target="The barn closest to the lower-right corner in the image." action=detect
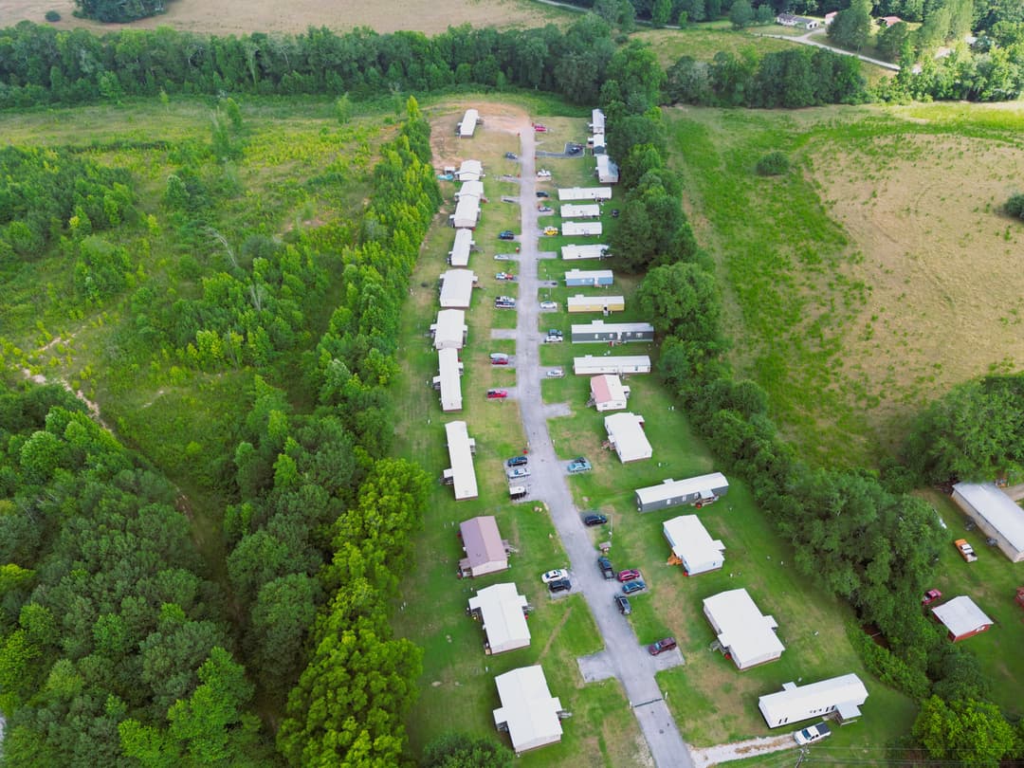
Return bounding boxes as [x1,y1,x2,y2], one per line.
[928,596,994,643]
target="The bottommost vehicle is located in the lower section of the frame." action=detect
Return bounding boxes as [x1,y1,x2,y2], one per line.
[794,721,834,744]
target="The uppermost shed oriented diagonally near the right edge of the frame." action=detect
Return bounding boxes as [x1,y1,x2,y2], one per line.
[949,478,1024,561]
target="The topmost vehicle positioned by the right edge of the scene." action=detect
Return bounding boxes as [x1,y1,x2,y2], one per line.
[950,538,983,564]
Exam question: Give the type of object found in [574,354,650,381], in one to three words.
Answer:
house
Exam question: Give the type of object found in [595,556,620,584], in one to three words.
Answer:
truck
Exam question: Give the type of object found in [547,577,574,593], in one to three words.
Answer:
car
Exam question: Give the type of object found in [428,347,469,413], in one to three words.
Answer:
house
